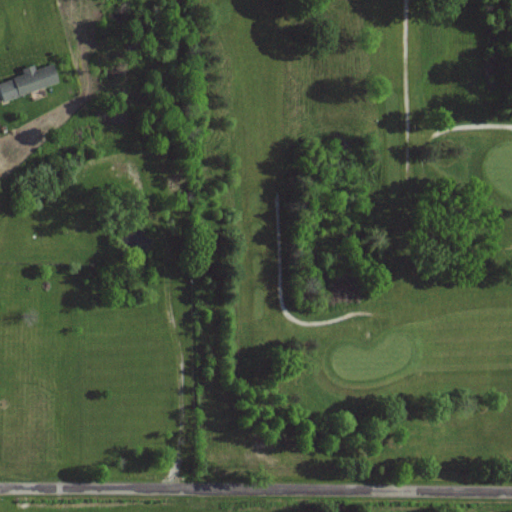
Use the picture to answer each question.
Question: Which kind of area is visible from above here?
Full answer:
What you see here is a golf course.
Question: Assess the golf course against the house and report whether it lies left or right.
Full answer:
Looking at the picture, you'll find the golf course to the right of the house.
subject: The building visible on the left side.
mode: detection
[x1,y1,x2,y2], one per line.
[0,64,60,103]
